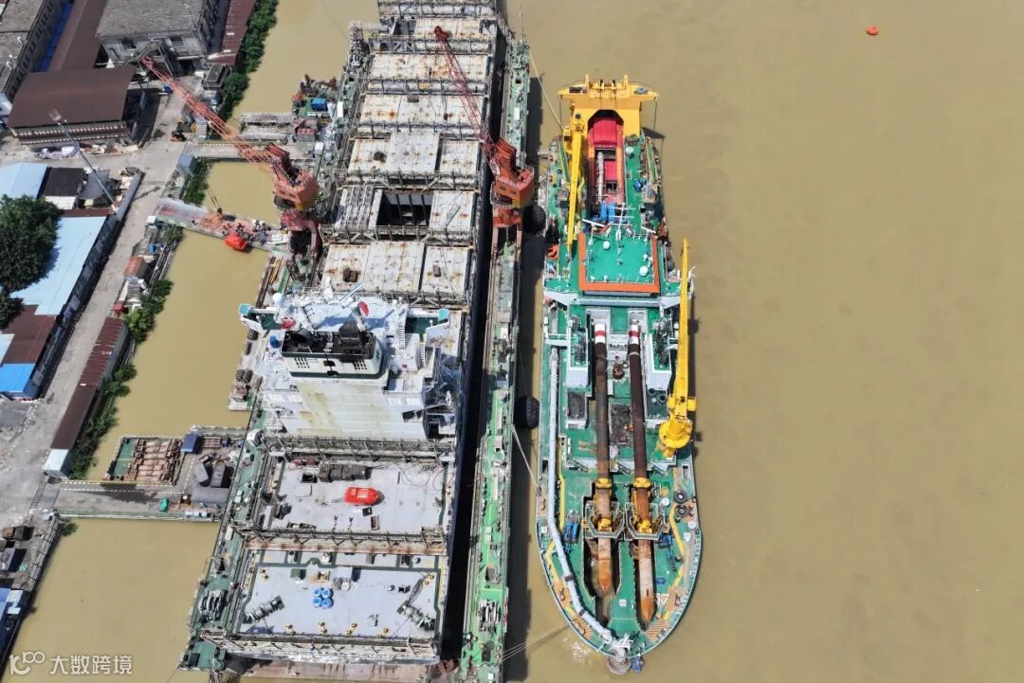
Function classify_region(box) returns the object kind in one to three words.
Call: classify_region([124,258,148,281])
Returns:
shed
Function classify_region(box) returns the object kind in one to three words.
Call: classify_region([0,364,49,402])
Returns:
building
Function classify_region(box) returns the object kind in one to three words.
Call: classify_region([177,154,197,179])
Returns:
building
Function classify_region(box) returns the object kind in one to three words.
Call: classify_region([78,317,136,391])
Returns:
shed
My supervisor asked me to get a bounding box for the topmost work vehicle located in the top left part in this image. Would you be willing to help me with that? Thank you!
[172,127,191,141]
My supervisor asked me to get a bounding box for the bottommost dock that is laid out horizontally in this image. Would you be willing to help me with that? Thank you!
[56,480,229,522]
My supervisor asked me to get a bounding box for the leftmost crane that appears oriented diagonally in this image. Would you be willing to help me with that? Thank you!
[140,57,318,268]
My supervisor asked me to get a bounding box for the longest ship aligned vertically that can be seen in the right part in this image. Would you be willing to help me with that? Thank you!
[537,74,703,675]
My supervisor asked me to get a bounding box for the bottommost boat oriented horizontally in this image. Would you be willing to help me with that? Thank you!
[342,488,382,506]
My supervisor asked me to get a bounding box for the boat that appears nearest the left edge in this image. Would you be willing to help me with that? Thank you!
[0,587,38,665]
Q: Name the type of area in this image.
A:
port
